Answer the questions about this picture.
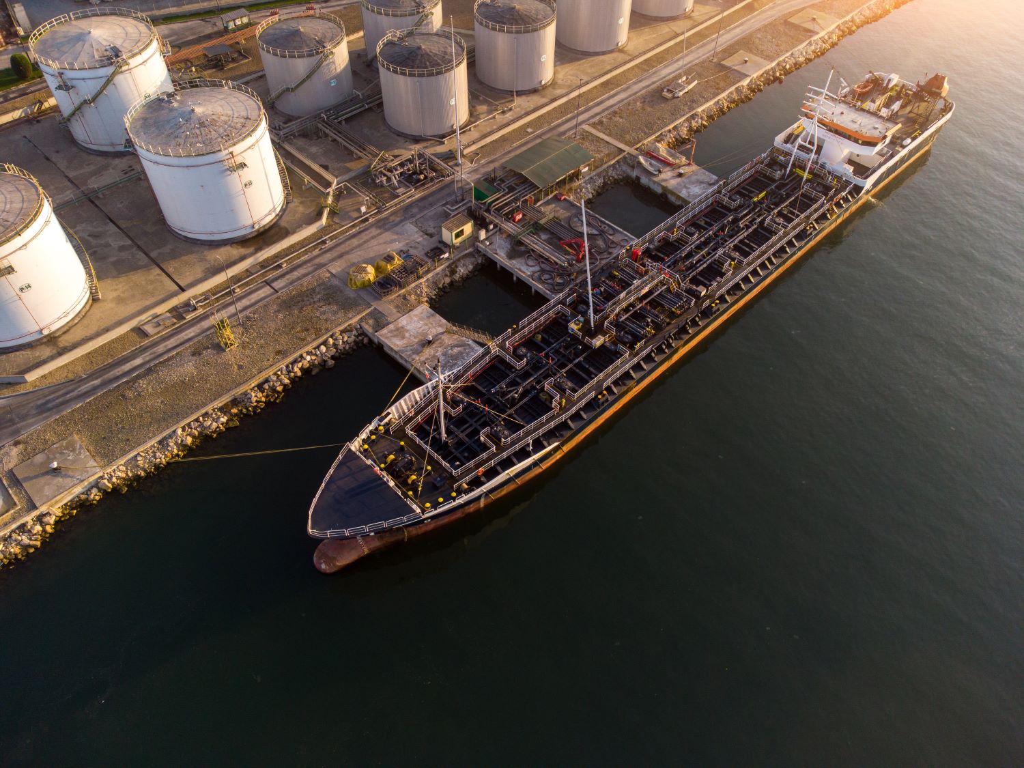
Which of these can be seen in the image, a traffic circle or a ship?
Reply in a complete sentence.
The image shows a ship.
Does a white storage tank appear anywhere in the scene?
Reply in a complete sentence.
Yes, a white storage tank can be made out from above.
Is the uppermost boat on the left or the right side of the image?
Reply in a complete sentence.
You can find the uppermost boat on the right side of the picture.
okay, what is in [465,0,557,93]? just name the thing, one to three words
storage tank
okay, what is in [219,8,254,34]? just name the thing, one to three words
shed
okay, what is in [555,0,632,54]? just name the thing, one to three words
storage tank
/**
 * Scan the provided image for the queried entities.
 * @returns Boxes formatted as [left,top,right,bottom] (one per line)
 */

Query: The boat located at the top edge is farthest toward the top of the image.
[659,28,699,100]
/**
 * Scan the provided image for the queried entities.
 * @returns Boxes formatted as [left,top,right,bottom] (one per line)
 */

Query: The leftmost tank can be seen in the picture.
[0,163,95,353]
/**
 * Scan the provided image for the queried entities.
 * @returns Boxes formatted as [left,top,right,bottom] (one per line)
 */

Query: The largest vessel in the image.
[306,56,960,577]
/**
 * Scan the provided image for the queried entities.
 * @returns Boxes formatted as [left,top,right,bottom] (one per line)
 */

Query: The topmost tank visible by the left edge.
[27,2,174,153]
